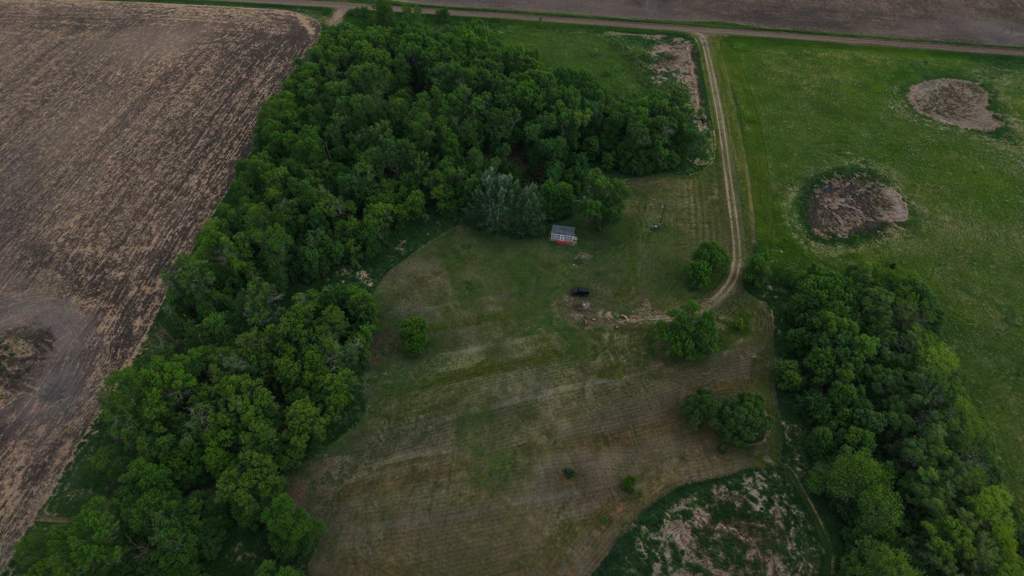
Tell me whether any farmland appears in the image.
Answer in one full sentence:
Yes, farmland can be seen from above here.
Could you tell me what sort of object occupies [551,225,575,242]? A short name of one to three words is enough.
shed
